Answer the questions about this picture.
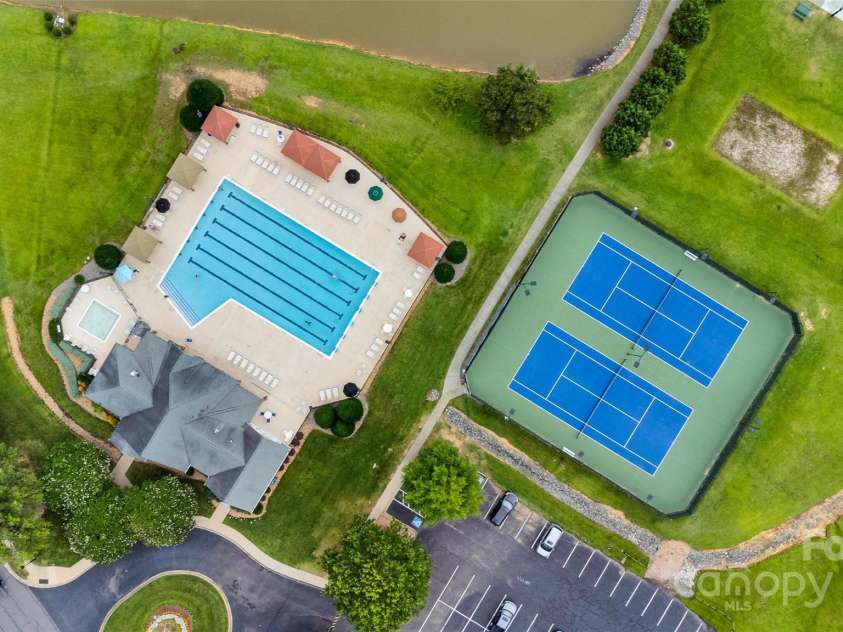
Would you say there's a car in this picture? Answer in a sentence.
Yes, a car is visible in the scene.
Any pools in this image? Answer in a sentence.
Yes, looking at the shot, I can spot a pool.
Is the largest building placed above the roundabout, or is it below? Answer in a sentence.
The largest building is located above the roundabout in this view.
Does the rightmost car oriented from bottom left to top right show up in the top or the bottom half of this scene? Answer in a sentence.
The bottom half of the photo is where the rightmost car oriented from bottom left to top right is.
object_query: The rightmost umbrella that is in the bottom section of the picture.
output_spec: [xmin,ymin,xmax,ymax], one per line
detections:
[344,382,358,397]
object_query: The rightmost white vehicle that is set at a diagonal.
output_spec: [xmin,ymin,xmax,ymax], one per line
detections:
[536,526,564,561]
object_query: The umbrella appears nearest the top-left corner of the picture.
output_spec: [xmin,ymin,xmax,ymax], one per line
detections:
[157,199,171,212]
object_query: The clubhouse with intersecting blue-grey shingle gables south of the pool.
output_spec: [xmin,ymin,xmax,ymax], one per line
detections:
[86,331,291,514]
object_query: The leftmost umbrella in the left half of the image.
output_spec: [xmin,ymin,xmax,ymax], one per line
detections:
[116,265,134,284]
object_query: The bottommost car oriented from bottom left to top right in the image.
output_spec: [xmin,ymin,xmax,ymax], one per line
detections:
[487,602,515,632]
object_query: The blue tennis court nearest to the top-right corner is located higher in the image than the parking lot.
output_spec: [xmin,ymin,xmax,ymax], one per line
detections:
[562,233,749,388]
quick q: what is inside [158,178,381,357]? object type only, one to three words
swimming pool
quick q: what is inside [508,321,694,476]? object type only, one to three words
tennis court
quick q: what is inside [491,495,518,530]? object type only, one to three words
car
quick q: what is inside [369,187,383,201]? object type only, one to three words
umbrella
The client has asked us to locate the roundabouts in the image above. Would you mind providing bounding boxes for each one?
[99,569,233,632]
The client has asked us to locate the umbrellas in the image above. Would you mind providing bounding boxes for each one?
[369,187,383,201]
[344,382,358,397]
[116,265,134,284]
[393,208,407,223]
[157,199,171,212]
[346,170,360,184]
